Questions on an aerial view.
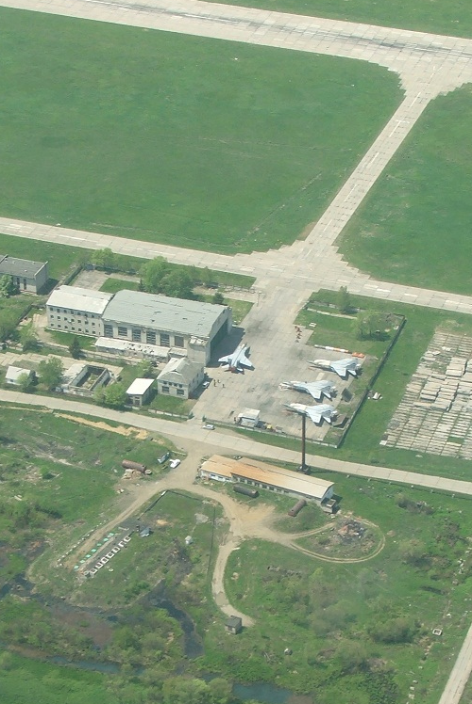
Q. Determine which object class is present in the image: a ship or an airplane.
airplane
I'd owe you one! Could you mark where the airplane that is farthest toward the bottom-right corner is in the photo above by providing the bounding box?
[295,399,340,421]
